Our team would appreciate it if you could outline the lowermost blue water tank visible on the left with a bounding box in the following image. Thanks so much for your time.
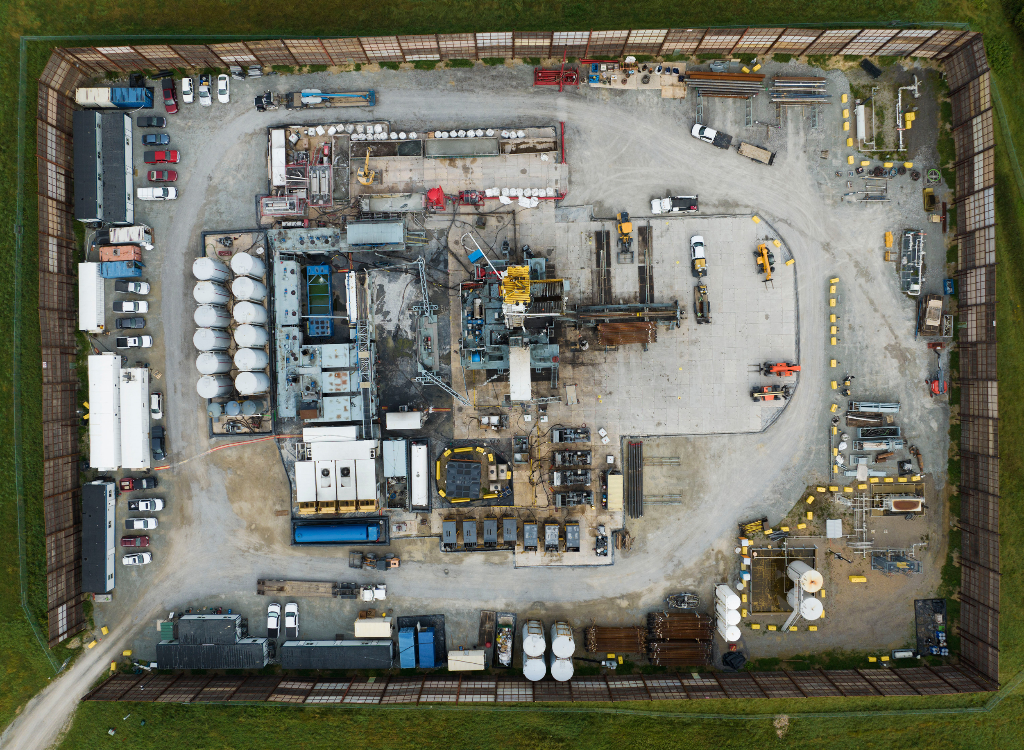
[295,522,381,542]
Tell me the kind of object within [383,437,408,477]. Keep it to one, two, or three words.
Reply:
house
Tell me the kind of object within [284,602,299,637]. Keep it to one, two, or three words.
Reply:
vehicle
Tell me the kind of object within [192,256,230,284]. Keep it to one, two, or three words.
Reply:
storage tank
